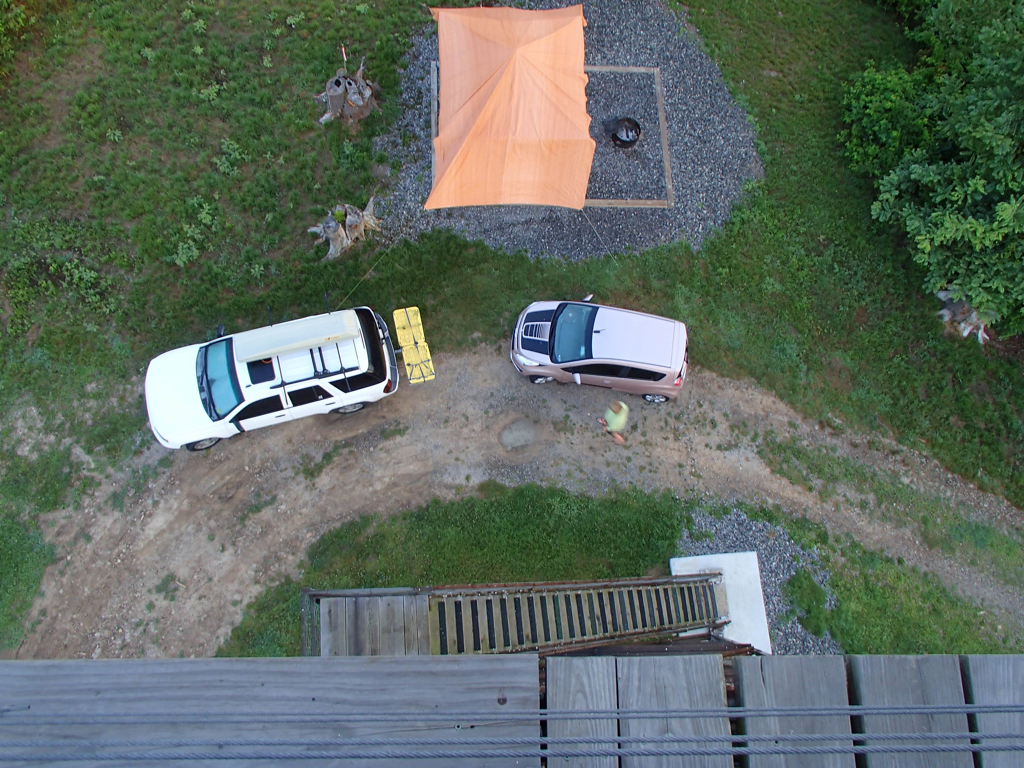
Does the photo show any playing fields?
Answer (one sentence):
No, there isn't any playing field down there.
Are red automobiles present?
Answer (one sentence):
No, I find no red automobile anywhere in the image.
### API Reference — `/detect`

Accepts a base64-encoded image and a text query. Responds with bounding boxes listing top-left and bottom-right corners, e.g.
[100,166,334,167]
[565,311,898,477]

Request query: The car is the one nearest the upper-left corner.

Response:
[146,289,401,451]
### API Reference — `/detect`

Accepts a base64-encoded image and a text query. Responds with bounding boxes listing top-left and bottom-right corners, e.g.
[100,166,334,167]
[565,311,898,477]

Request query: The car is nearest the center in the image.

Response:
[510,297,693,404]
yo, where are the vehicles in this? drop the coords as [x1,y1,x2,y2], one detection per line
[146,289,401,451]
[510,297,693,404]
